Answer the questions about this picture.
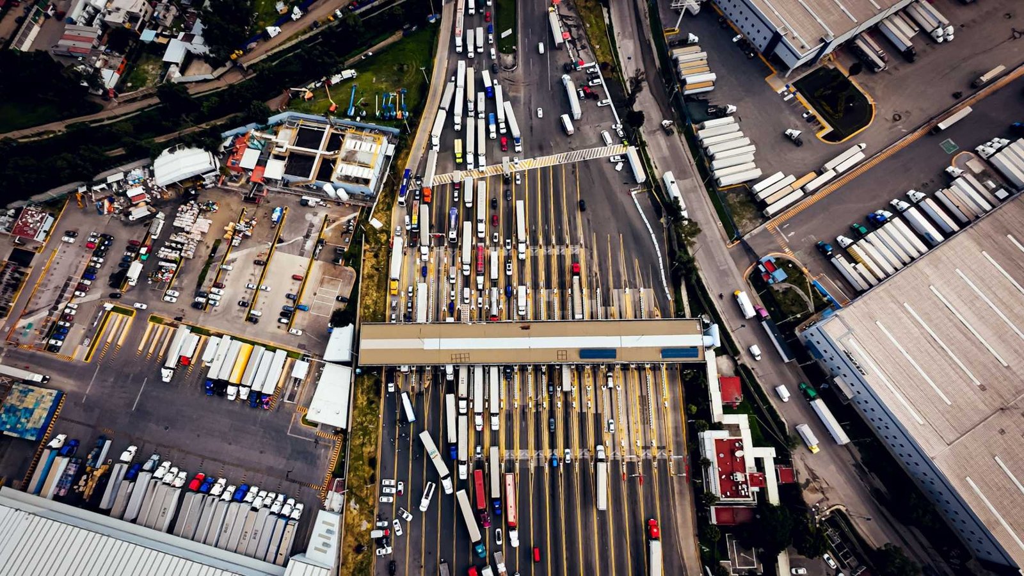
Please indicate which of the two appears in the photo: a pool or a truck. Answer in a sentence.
It is a truck that can be seen here.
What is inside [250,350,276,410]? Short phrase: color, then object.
white truck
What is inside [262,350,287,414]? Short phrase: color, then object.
white truck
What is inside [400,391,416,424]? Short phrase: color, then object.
white vehicle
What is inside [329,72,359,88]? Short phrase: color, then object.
white vehicle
